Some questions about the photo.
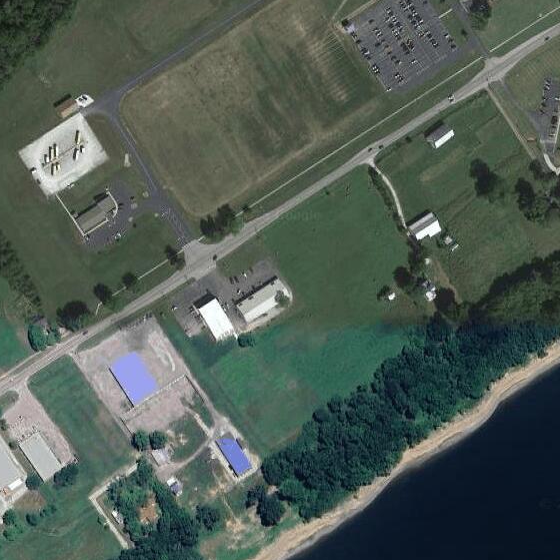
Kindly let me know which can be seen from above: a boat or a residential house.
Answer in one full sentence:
Visible in the photo is a residential house.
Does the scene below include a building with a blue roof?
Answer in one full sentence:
Yes, there's a building with a blue roof down there.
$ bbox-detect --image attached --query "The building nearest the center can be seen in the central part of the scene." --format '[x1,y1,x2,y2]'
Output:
[237,279,284,323]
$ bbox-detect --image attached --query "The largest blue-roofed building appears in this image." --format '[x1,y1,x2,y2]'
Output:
[110,352,157,407]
